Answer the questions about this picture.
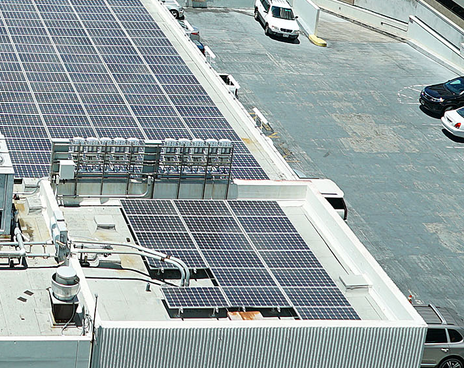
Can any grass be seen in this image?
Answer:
No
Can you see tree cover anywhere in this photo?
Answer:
No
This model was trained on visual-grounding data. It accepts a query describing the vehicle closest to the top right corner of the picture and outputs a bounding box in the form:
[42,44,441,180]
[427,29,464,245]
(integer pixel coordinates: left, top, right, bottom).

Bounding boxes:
[412,67,464,110]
